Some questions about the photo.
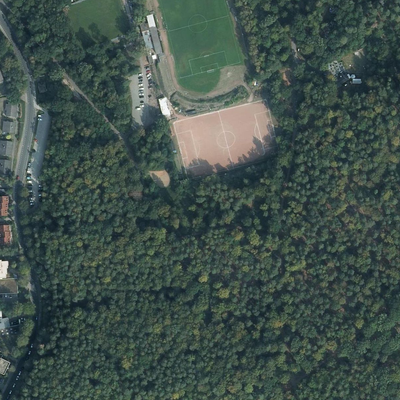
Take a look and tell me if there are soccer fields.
Yes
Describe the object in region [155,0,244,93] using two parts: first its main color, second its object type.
green soccer field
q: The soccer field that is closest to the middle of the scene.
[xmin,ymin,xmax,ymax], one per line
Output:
[173,100,280,179]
